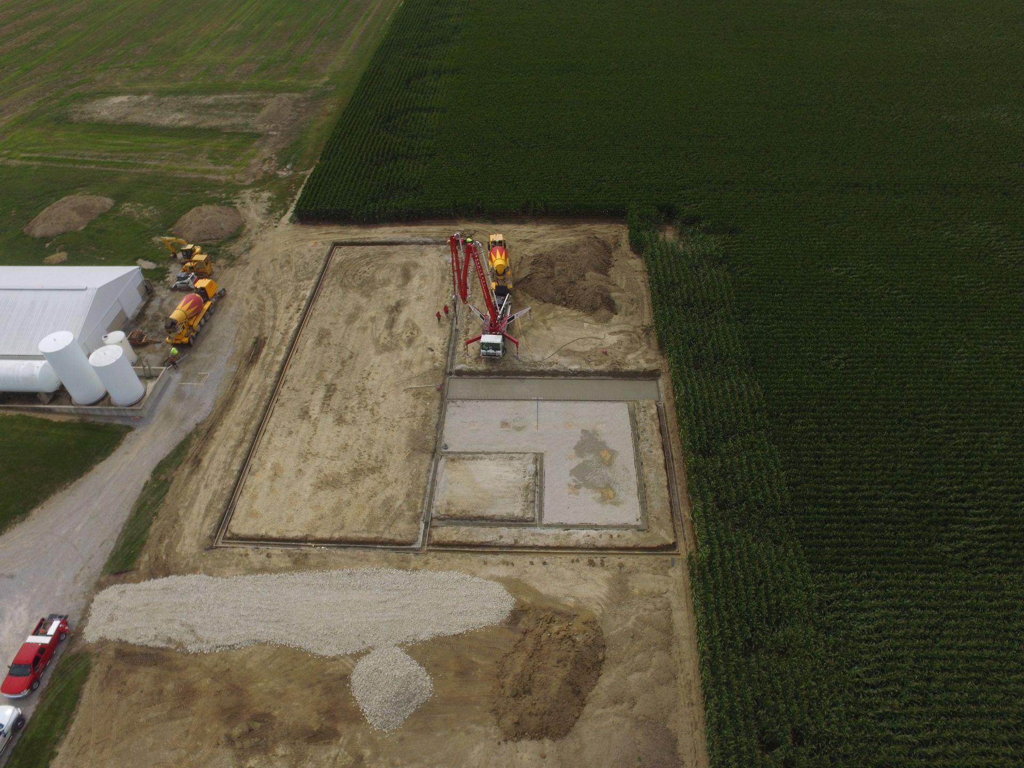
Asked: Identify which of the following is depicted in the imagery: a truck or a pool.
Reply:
truck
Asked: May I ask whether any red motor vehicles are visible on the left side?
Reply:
Yes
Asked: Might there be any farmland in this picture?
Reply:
Yes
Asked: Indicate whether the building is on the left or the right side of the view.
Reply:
left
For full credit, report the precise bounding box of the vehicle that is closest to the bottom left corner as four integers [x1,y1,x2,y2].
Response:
[0,706,28,763]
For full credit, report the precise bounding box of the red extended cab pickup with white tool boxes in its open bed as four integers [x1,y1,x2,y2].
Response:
[5,620,70,699]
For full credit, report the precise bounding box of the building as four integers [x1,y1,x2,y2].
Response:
[0,266,154,371]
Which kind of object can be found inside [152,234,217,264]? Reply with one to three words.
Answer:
work vehicle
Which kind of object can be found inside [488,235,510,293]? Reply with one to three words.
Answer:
truck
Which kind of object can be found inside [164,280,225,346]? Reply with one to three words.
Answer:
truck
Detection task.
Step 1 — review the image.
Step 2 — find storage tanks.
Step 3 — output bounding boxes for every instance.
[102,329,141,366]
[39,332,106,405]
[0,364,69,400]
[89,346,145,407]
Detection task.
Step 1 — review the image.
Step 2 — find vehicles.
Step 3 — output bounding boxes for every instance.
[164,280,225,346]
[5,620,70,699]
[0,706,28,763]
[168,270,197,290]
[152,234,217,264]
[450,229,533,360]
[488,235,510,293]
[175,257,216,280]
